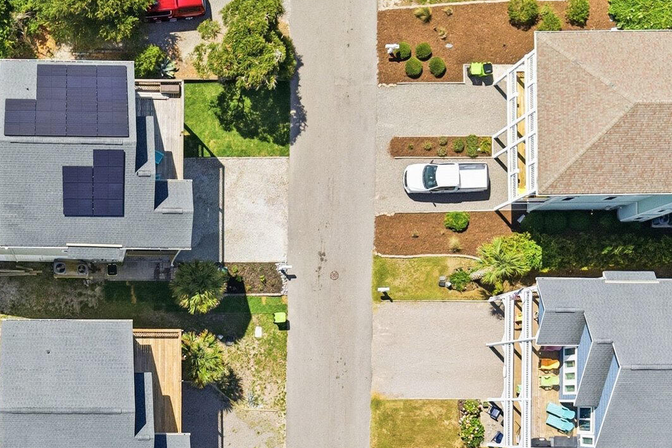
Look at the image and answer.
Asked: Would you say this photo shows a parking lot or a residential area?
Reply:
residential area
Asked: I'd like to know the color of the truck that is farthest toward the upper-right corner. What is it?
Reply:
white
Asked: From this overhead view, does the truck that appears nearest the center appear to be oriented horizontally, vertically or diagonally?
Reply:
horizontally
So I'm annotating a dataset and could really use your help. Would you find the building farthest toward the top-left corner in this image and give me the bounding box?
[0,58,193,263]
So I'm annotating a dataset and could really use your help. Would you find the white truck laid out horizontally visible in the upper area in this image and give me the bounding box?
[399,158,490,197]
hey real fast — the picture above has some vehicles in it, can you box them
[124,0,209,24]
[399,158,490,197]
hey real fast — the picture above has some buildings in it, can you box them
[0,58,193,263]
[491,30,672,225]
[0,319,191,448]
[487,270,672,448]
